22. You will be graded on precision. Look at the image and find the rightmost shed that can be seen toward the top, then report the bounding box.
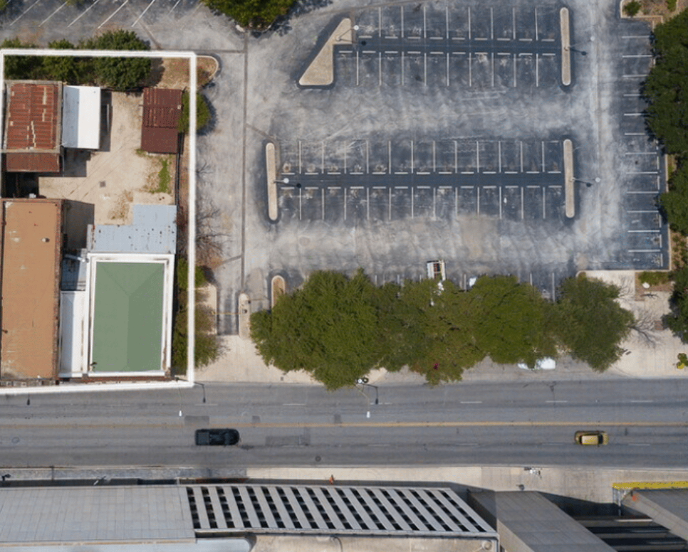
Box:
[141,88,181,154]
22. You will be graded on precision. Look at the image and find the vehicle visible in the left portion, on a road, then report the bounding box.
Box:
[195,426,239,446]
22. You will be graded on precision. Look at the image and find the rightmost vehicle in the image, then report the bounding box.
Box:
[574,430,607,447]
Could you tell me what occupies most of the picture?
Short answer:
paved ground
